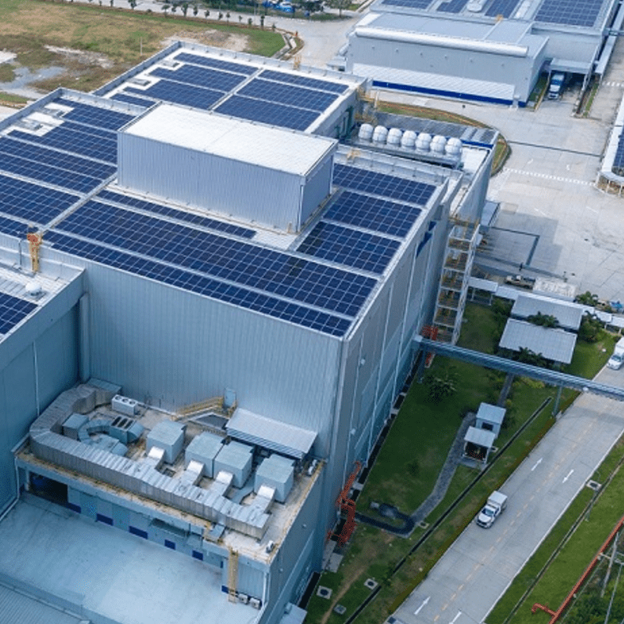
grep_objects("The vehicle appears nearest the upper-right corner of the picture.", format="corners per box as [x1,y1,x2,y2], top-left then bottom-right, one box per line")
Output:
[551,69,569,95]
